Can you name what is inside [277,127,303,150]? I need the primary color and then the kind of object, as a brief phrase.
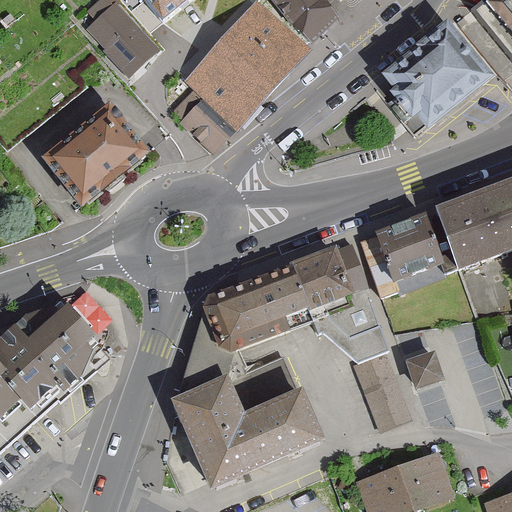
white vehicle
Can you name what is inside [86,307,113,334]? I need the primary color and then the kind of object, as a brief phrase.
red umbrella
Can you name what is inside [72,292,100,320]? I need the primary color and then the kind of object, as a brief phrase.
red umbrella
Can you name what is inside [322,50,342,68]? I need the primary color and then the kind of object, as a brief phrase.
white car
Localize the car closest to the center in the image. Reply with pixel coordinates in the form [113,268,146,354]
[237,237,258,252]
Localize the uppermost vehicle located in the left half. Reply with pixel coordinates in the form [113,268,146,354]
[185,6,204,26]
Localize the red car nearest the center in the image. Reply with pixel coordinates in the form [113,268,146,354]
[316,226,337,240]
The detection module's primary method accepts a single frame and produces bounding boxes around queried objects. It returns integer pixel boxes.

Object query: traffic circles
[112,170,250,294]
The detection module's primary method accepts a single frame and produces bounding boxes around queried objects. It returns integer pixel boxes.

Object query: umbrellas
[86,307,113,334]
[72,292,100,320]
